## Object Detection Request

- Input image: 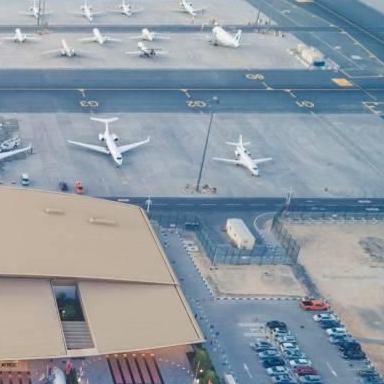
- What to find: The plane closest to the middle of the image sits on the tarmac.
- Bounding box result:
[212,135,273,179]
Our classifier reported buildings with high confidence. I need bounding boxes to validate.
[0,186,205,362]
[219,212,258,246]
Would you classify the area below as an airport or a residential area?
airport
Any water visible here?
No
